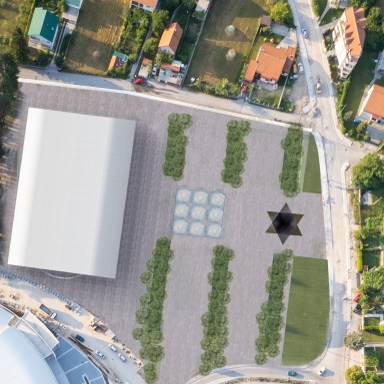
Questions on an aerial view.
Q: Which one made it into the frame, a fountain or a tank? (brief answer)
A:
fountain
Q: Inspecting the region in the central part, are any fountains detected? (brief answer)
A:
Yes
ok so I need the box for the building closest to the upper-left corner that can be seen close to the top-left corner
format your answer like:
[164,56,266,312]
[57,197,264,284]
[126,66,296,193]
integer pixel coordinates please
[29,7,59,48]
